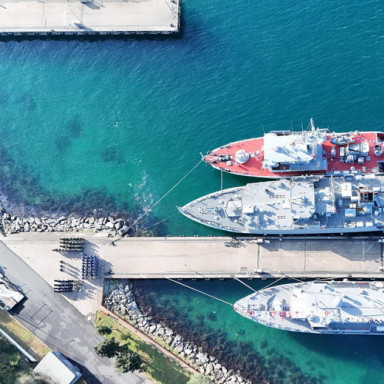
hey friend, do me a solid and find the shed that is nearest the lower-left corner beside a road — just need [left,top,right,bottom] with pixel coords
[34,351,82,384]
